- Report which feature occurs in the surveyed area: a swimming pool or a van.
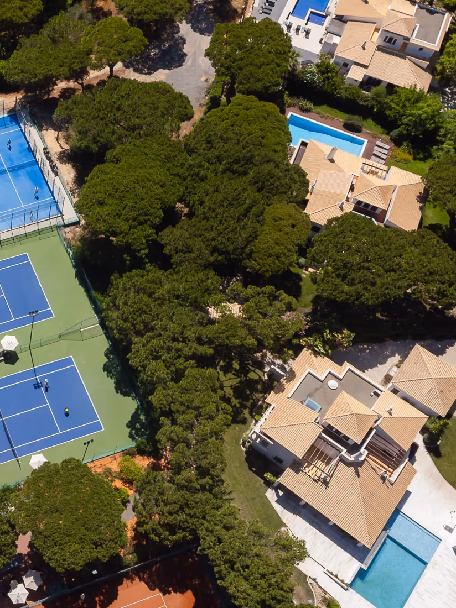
swimming pool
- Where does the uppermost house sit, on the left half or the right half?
right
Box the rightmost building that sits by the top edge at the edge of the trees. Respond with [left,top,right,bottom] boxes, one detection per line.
[319,0,453,86]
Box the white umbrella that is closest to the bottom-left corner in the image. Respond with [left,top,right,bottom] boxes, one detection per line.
[8,583,28,606]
